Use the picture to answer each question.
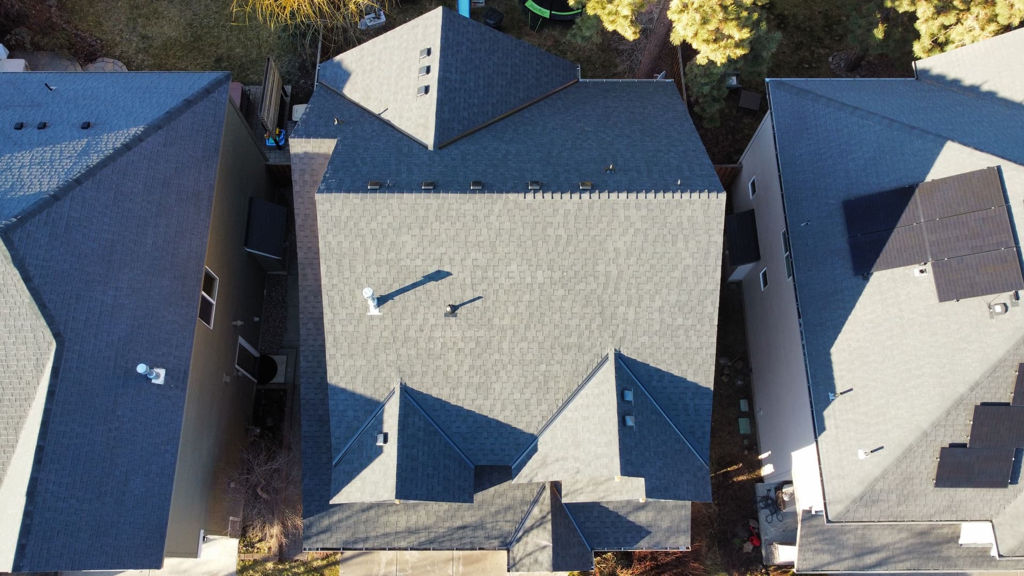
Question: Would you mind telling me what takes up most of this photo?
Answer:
buildings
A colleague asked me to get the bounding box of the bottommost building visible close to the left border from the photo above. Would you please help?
[0,71,295,573]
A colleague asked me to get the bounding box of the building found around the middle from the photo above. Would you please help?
[287,4,727,571]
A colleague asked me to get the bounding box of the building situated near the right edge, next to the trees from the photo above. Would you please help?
[721,28,1024,576]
